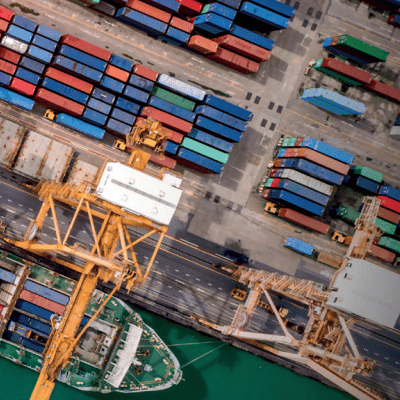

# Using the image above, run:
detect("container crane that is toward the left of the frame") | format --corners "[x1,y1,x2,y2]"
[0,113,181,400]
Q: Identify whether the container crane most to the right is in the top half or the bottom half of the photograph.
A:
bottom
